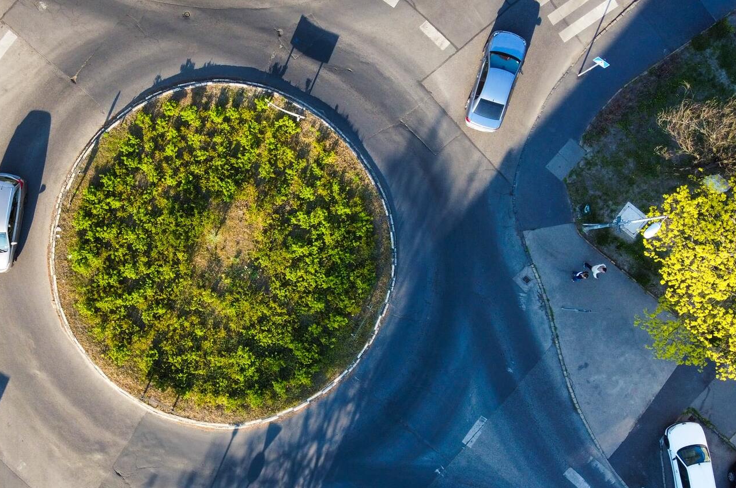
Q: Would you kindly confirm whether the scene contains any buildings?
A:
No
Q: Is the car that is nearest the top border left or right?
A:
right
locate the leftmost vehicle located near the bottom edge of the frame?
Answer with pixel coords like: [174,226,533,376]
[660,420,719,488]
